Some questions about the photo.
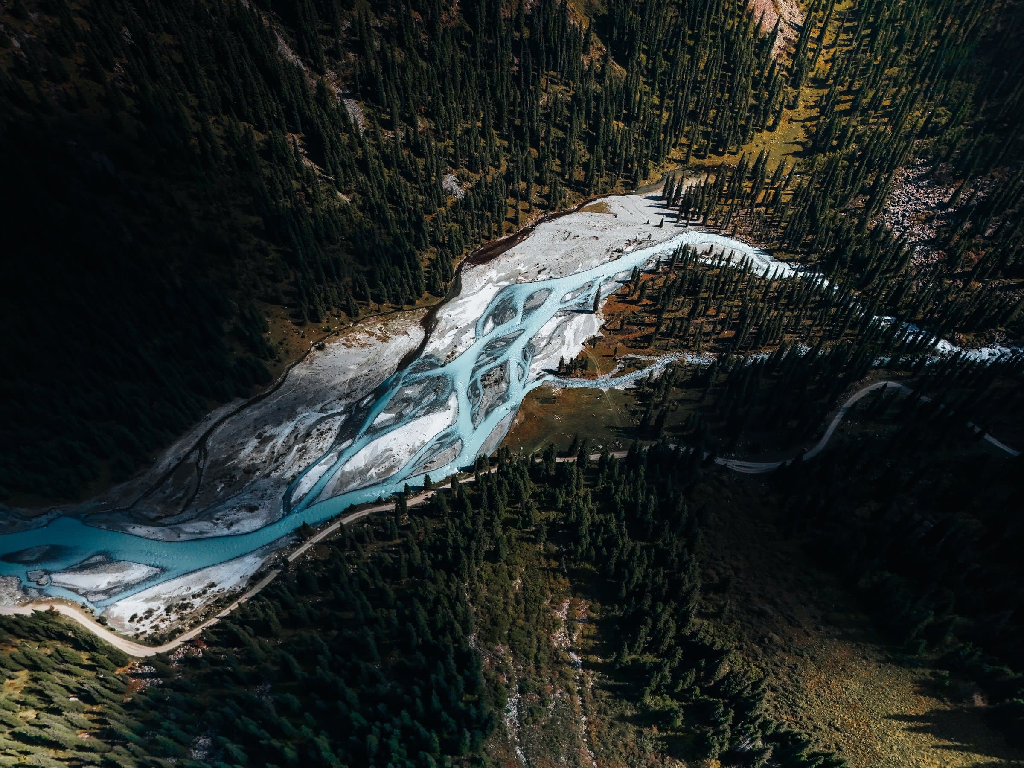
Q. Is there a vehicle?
No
